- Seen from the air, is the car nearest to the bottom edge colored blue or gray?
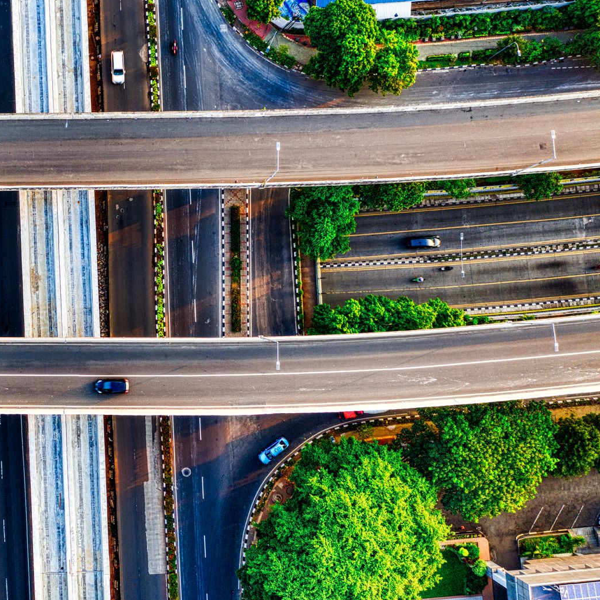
blue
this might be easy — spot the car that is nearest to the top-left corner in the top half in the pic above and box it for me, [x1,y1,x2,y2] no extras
[111,49,126,84]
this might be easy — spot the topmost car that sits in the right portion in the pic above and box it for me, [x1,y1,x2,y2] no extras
[406,234,441,249]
